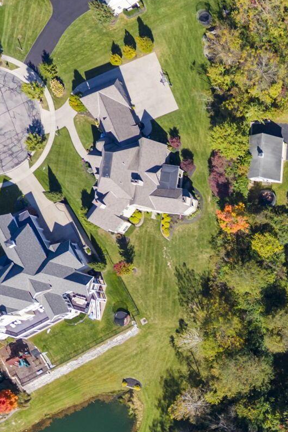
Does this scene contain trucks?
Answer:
No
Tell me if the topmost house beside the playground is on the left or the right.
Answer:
left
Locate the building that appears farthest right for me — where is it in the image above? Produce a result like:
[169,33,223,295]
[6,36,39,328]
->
[249,130,285,182]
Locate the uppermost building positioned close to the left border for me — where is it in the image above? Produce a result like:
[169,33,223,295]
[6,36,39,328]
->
[0,211,113,339]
